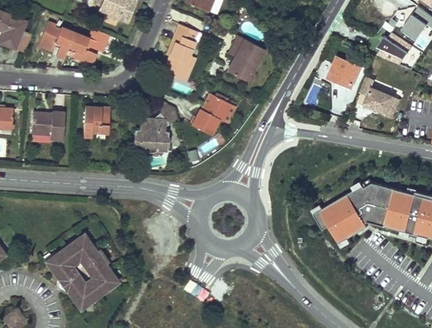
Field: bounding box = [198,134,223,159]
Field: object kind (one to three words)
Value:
swimming pool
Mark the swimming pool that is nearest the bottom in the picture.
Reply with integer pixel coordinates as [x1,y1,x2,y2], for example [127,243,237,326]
[151,152,170,170]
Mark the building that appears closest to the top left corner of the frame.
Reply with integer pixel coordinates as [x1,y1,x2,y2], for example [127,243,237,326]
[0,10,32,52]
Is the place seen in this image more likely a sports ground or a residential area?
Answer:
residential area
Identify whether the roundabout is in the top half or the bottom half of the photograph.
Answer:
bottom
